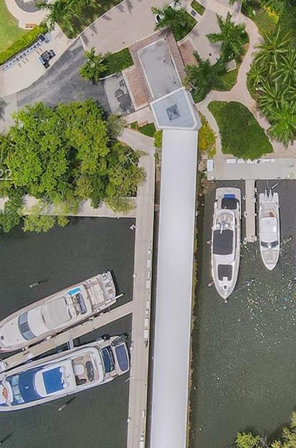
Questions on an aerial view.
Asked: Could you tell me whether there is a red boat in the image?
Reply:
No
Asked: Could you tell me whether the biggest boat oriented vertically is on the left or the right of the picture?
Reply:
right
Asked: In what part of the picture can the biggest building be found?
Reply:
top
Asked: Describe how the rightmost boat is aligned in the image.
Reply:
vertically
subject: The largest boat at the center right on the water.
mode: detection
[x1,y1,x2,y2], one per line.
[213,188,244,302]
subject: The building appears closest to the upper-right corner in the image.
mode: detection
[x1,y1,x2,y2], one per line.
[129,29,189,104]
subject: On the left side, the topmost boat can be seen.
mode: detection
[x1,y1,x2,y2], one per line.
[0,271,124,351]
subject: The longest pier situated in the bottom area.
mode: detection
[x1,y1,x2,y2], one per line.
[7,300,134,369]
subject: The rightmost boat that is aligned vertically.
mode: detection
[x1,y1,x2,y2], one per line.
[260,192,279,270]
